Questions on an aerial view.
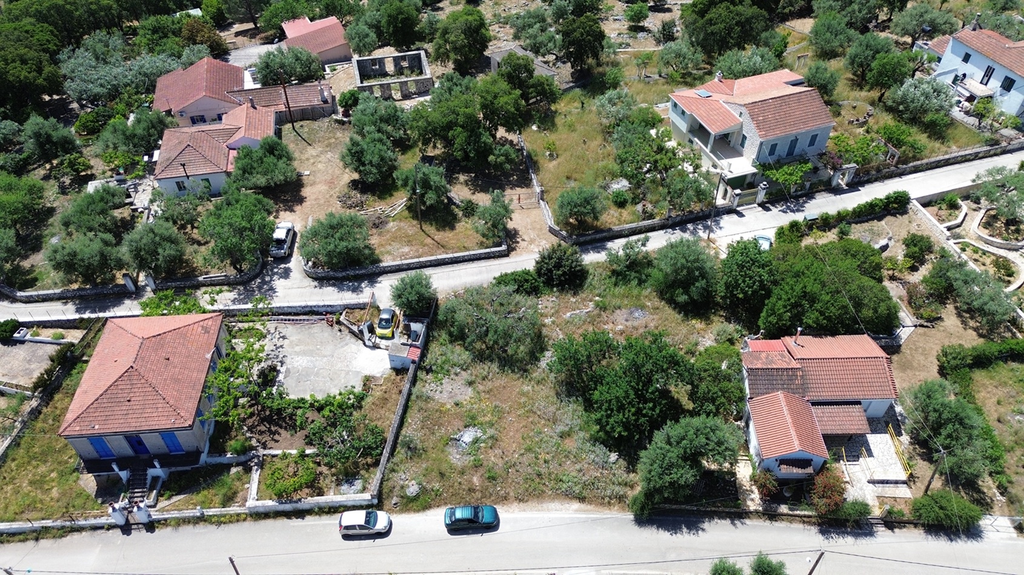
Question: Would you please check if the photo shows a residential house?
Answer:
Yes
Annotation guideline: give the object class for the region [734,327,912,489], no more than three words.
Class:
house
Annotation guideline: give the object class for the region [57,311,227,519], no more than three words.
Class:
house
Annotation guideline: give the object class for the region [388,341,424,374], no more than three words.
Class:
shed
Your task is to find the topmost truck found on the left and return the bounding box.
[263,223,296,257]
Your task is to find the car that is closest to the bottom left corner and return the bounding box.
[336,509,391,539]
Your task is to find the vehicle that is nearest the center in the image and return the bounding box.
[377,308,402,336]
